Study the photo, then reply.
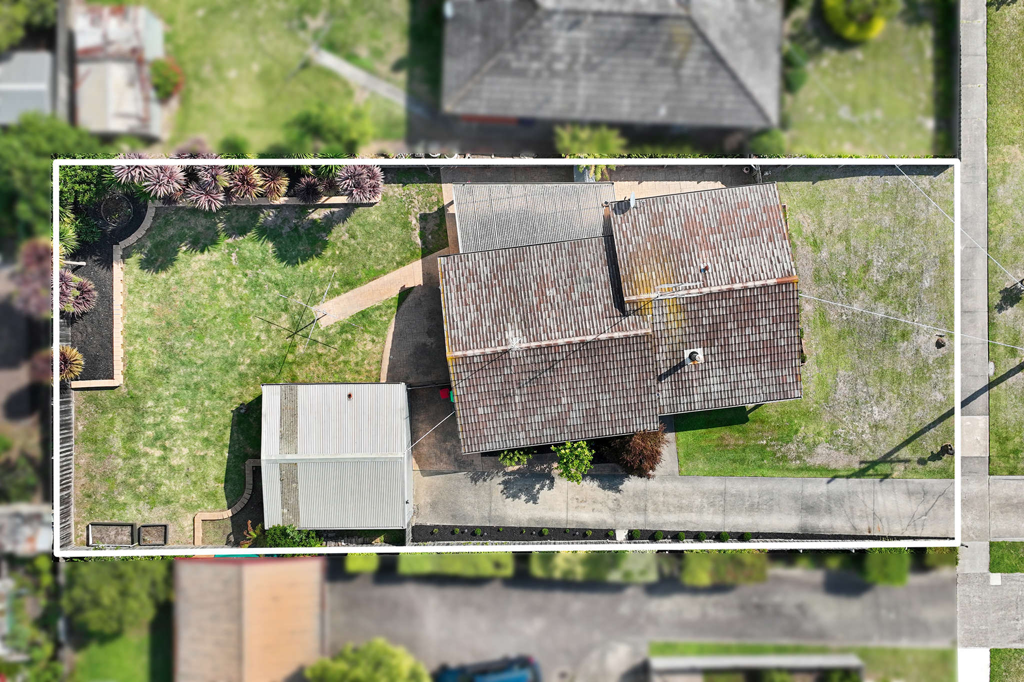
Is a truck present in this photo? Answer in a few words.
No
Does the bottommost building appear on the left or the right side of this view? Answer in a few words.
left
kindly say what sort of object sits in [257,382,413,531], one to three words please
building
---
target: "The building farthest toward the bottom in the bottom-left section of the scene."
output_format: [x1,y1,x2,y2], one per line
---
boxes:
[174,553,336,682]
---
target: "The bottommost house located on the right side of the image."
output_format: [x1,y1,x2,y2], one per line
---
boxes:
[439,180,806,456]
